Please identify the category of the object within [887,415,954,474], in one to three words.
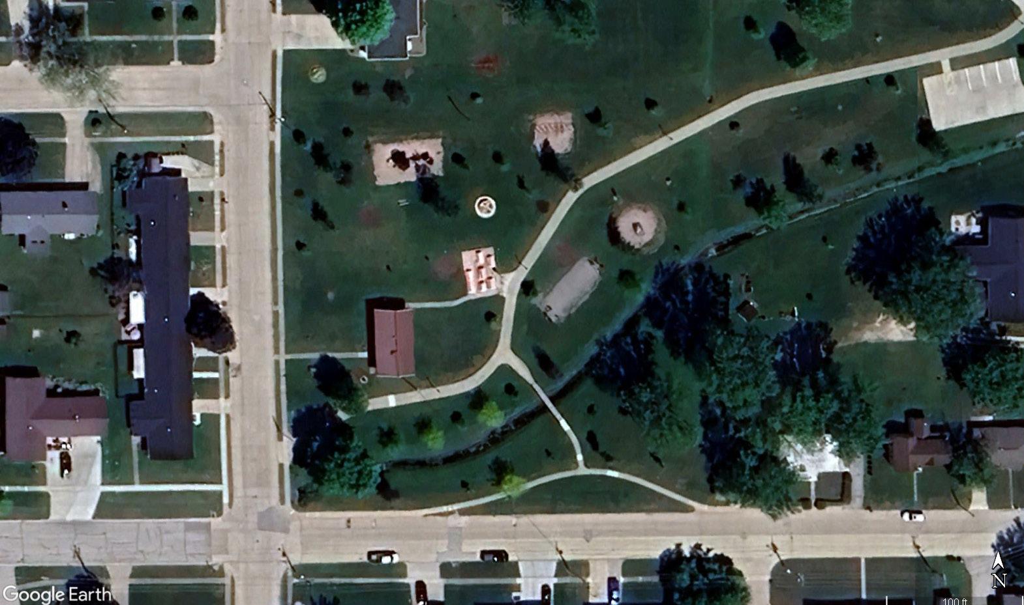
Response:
house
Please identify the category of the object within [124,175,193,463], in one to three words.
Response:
building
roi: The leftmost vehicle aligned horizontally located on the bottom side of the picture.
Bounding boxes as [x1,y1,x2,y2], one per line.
[370,554,397,566]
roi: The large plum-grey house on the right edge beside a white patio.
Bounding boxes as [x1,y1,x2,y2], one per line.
[948,214,1024,325]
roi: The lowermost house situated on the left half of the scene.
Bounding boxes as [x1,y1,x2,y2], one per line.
[3,375,112,465]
